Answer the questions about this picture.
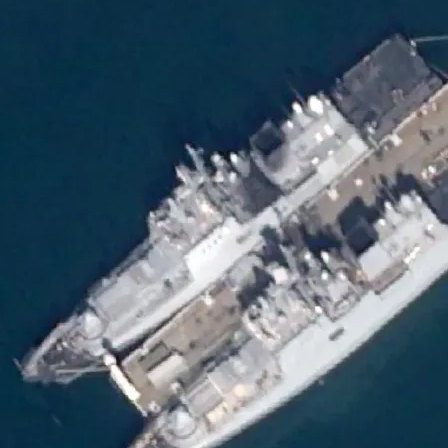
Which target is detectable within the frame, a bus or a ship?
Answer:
ship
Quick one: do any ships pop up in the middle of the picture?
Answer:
Yes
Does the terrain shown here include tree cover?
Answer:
No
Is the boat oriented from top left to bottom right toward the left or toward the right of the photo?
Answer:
left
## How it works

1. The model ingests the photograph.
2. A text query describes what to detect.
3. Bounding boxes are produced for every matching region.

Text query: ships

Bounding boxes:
[15,39,445,388]
[125,170,448,448]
